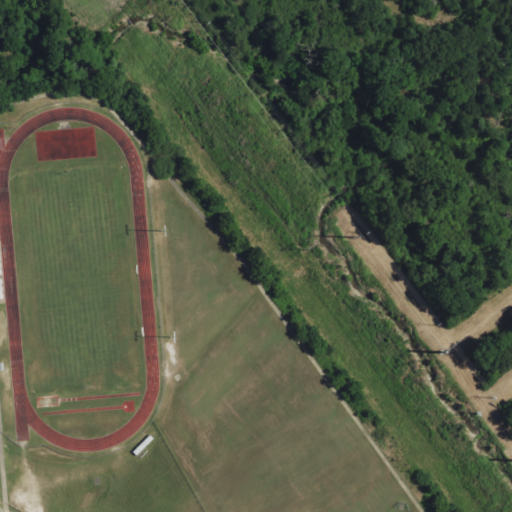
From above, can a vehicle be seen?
No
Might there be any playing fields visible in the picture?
Yes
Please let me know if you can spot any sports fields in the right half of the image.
No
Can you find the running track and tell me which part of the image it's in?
left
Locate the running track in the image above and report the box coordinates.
[0,107,160,451]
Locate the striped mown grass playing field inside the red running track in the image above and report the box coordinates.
[10,120,146,438]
